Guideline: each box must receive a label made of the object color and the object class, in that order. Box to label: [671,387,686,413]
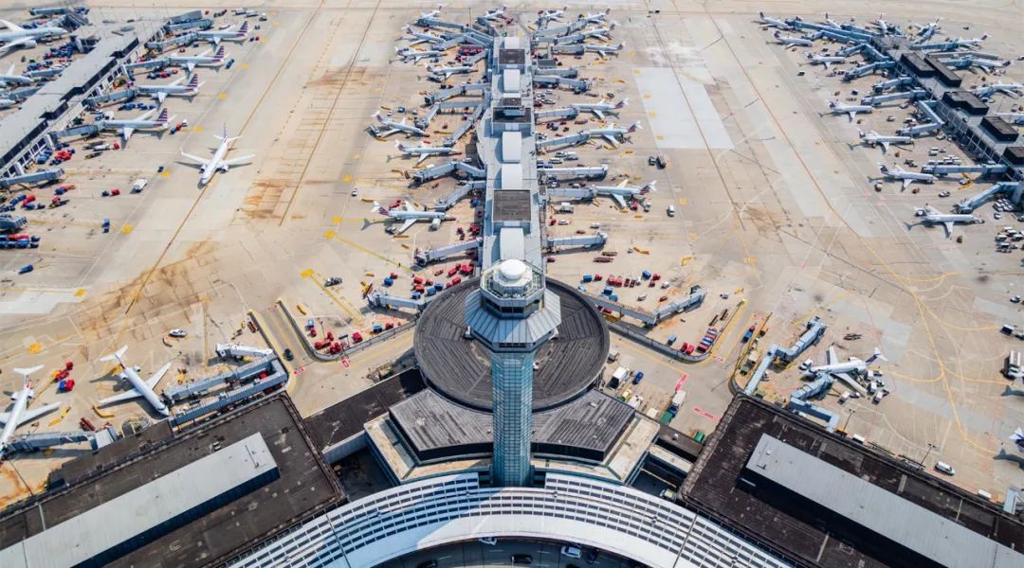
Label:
white vehicle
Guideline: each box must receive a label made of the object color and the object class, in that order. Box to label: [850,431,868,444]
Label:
white vehicle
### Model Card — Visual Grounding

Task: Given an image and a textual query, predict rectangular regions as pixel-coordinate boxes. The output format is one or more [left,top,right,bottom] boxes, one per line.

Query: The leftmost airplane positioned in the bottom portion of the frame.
[0,374,54,458]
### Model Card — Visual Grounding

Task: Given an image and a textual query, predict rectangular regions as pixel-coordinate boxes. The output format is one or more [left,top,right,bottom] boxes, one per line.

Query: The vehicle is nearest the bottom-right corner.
[972,488,994,502]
